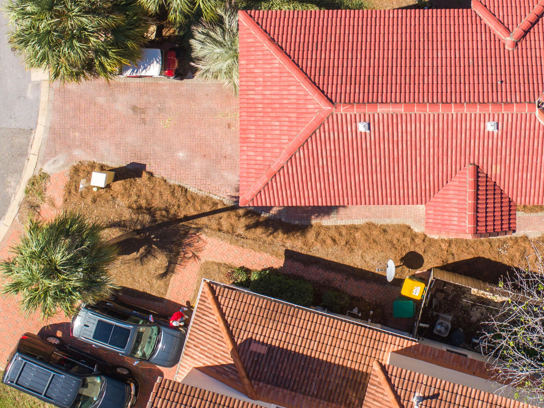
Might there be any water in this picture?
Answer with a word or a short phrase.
No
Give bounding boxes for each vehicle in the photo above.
[121,49,189,79]
[69,296,190,369]
[2,321,149,408]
